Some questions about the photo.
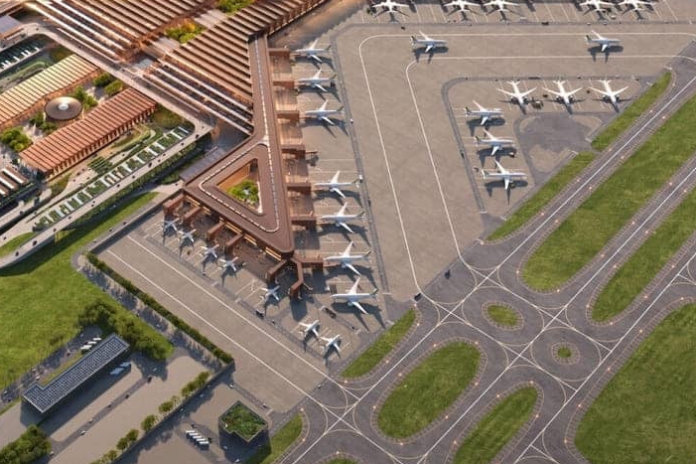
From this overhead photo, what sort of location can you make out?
airport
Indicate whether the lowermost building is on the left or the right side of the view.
left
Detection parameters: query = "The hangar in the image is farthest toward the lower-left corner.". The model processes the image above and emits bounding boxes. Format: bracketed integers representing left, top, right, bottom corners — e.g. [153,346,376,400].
[23,333,129,420]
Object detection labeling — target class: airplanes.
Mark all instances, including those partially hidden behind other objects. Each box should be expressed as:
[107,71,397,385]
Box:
[321,199,362,227]
[307,98,343,121]
[317,169,356,196]
[175,227,198,244]
[326,239,368,269]
[542,77,577,101]
[589,76,623,103]
[588,33,618,49]
[332,279,376,311]
[375,0,405,10]
[583,0,612,9]
[484,0,513,10]
[498,77,533,103]
[216,254,240,272]
[412,33,442,50]
[257,282,282,300]
[475,128,512,152]
[294,38,328,58]
[468,99,504,121]
[299,68,334,89]
[196,242,220,259]
[484,159,523,184]
[158,217,182,233]
[447,0,476,10]
[294,318,320,337]
[315,332,341,352]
